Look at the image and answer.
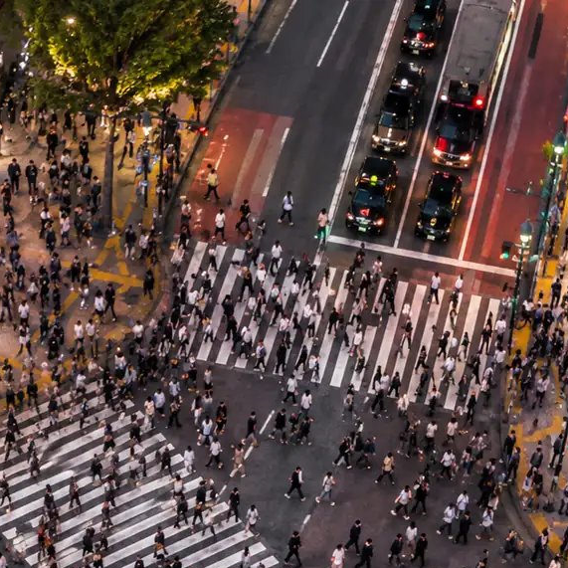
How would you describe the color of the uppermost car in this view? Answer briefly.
black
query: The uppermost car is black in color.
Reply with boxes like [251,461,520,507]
[404,0,450,55]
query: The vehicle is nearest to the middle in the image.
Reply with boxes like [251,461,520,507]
[351,159,404,233]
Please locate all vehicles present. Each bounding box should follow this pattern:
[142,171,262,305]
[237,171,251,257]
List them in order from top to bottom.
[404,0,450,55]
[436,0,519,125]
[377,79,427,152]
[436,98,483,167]
[351,159,404,233]
[422,168,474,241]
